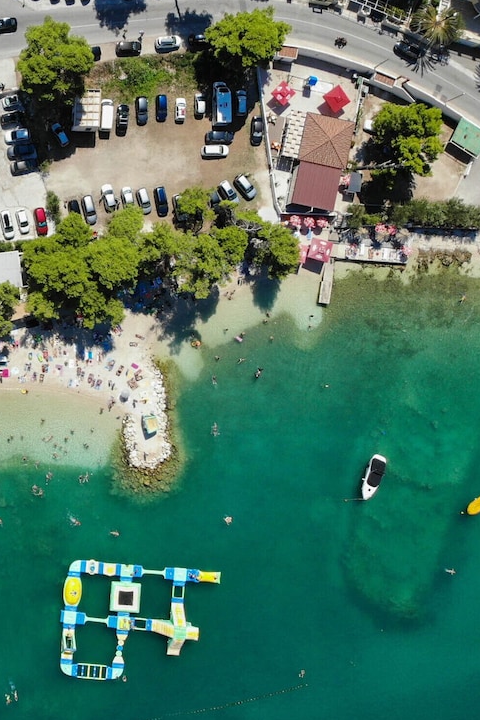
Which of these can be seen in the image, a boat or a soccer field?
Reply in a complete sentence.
The one in the frame is a boat.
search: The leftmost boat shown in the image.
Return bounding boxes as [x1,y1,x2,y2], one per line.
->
[361,452,386,500]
